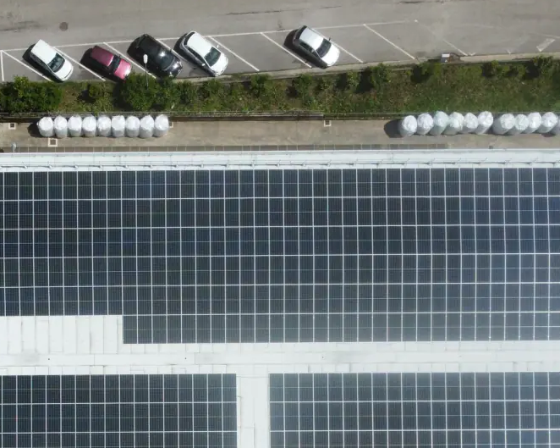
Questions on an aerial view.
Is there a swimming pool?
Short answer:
No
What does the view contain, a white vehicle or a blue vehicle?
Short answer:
white vehicle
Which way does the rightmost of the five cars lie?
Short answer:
on a diagonal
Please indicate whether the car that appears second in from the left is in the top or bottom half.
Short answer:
top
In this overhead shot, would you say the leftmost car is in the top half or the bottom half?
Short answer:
top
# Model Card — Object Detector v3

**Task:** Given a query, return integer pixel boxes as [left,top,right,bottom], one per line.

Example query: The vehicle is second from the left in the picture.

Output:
[84,42,132,86]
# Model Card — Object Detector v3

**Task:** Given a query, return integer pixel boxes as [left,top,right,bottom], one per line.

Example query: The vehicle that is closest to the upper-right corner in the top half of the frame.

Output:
[289,23,340,72]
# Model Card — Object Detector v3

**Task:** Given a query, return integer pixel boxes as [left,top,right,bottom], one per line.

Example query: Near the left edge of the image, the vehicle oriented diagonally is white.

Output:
[25,35,76,86]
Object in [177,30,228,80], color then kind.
white car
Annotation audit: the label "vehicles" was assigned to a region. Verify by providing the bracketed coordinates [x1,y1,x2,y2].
[25,35,76,86]
[177,30,228,80]
[84,42,132,86]
[289,23,340,72]
[128,31,182,80]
